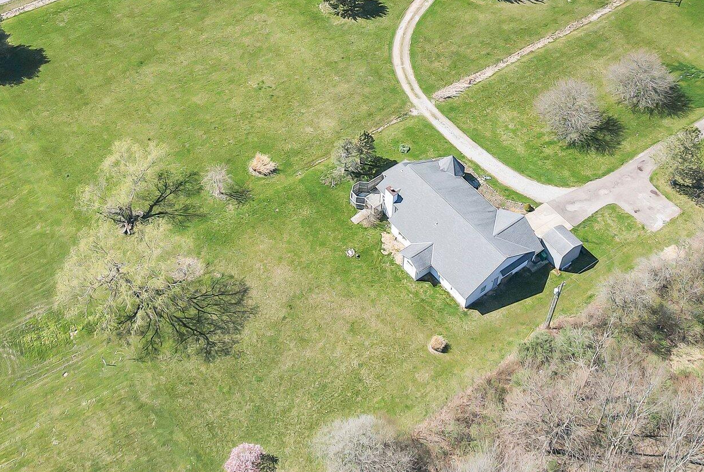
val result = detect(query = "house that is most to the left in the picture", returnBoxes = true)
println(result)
[374,155,546,306]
